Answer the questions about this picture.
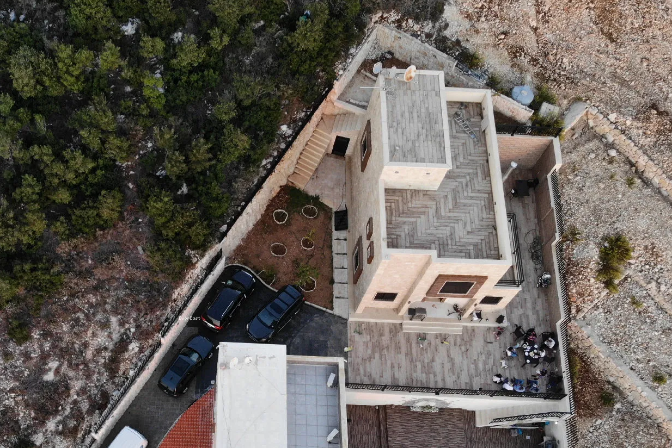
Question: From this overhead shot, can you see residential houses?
Yes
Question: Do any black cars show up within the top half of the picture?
No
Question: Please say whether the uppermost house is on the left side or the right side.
right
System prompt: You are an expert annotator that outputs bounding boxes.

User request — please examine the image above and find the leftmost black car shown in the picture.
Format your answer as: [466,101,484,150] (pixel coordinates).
[155,334,214,400]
